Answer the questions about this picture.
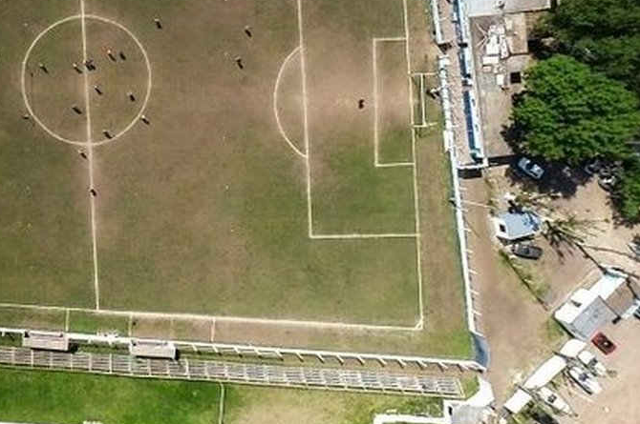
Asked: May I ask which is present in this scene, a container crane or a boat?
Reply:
boat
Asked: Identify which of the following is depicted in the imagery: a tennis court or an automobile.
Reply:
automobile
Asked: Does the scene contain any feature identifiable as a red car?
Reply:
Yes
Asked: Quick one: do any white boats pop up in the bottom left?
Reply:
No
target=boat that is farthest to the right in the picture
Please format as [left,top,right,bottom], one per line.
[565,367,604,395]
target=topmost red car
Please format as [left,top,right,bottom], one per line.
[590,333,614,355]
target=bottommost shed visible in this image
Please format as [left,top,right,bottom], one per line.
[441,397,492,424]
